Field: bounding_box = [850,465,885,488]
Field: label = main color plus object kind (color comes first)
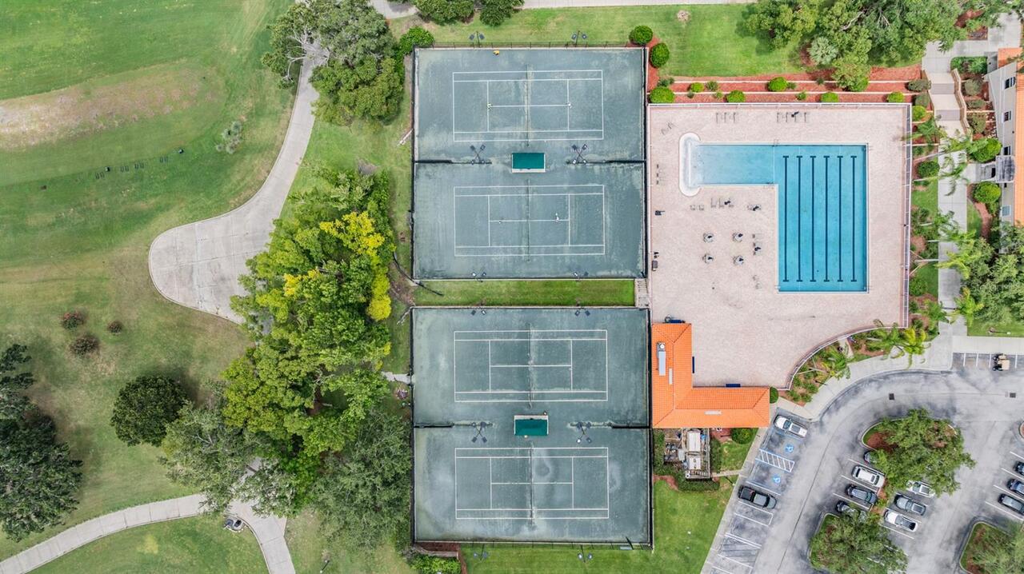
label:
white car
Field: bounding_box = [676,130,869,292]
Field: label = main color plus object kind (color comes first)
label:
blue swimming pool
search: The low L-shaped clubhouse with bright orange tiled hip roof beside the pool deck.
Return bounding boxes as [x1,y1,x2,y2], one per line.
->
[652,319,770,429]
